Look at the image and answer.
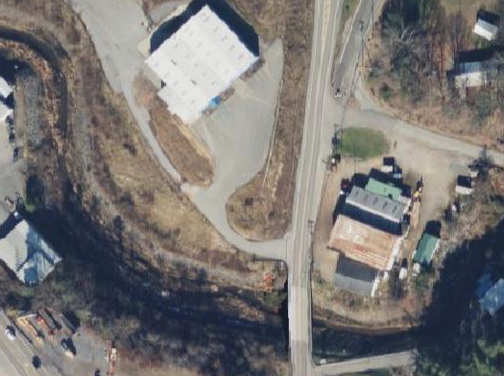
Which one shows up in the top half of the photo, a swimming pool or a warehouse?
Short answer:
warehouse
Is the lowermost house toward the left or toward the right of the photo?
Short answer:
right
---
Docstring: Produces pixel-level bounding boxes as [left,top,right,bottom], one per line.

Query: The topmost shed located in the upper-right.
[472,15,499,40]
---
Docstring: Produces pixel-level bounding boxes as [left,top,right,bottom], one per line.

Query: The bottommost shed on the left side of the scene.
[0,220,63,283]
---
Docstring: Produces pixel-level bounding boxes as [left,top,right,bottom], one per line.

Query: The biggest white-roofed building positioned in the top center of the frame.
[144,4,264,124]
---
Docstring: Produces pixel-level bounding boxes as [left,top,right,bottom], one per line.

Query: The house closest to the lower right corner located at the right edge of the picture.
[478,279,504,314]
